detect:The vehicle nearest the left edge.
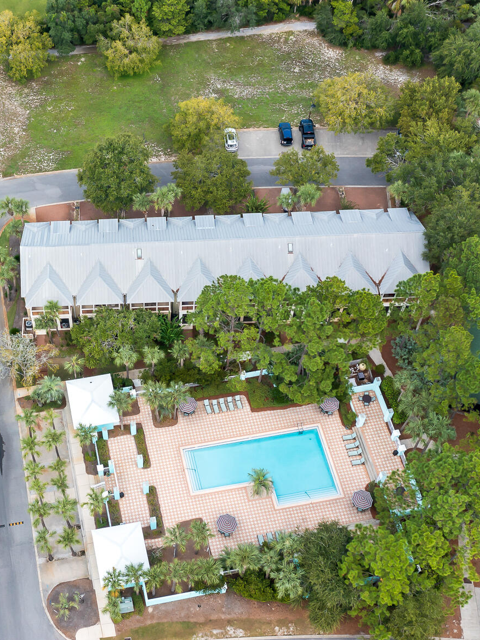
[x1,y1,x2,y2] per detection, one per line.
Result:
[224,130,239,152]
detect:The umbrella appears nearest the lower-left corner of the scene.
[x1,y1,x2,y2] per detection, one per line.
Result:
[216,513,239,535]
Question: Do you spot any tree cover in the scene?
Yes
